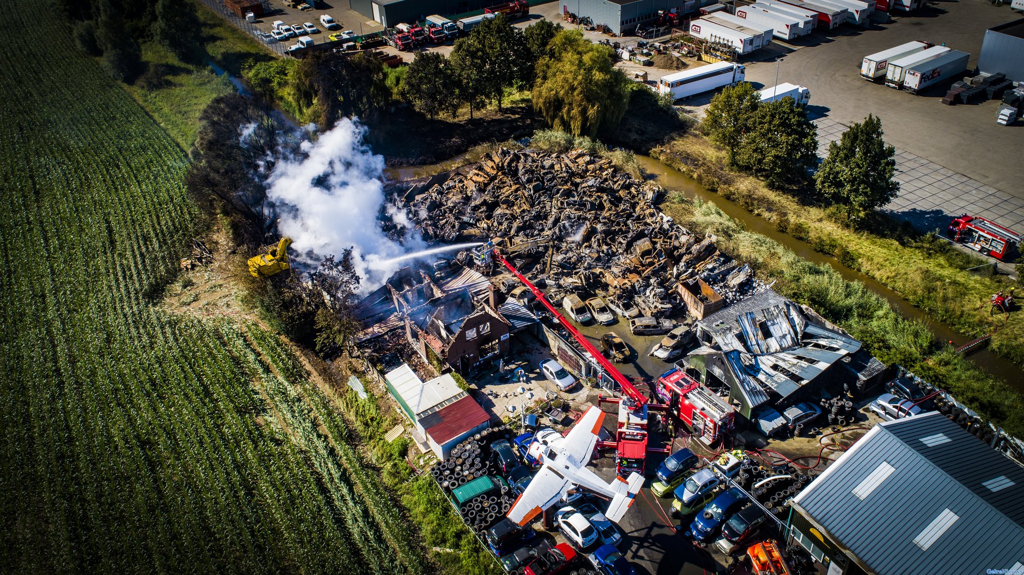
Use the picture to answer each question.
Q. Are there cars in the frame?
Yes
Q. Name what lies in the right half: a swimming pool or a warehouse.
warehouse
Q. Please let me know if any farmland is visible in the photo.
Yes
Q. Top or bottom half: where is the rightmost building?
top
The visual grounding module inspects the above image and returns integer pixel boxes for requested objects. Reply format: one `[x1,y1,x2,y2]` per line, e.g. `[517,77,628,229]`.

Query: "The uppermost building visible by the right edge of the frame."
[976,18,1024,84]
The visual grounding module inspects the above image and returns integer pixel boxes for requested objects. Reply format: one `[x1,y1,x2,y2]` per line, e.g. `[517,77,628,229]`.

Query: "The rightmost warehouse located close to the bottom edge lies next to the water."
[780,410,1024,575]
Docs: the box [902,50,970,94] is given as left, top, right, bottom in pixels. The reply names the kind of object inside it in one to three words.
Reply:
trailer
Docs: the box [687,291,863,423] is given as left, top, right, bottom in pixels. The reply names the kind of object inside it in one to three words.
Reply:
warehouse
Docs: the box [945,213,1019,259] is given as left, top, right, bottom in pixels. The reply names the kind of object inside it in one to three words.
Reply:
truck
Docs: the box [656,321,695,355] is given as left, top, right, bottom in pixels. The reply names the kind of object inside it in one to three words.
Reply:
car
